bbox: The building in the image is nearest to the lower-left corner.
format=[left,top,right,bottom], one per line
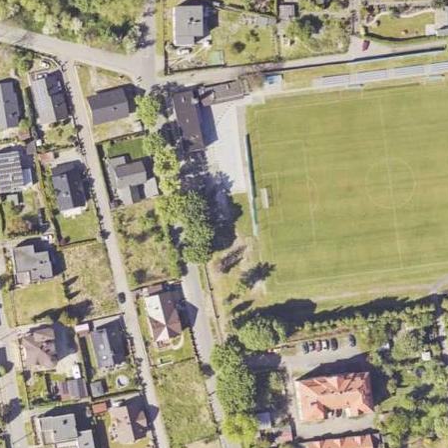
[37,413,77,447]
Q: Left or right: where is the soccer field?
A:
right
